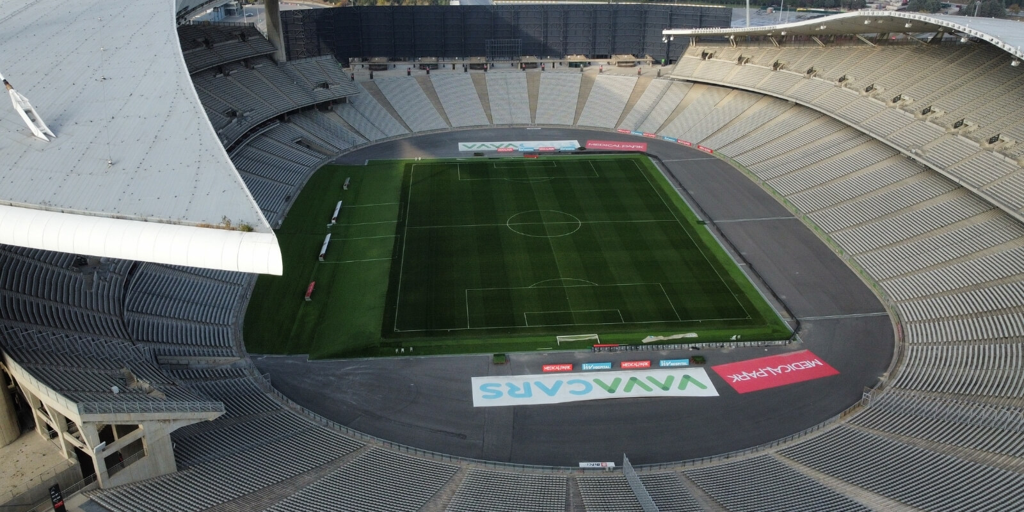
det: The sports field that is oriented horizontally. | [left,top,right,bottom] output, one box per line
[381,157,770,339]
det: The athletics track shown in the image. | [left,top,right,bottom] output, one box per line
[239,127,899,470]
